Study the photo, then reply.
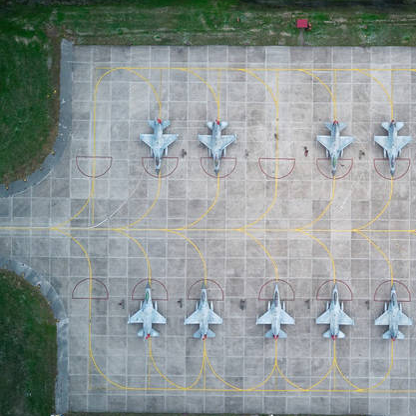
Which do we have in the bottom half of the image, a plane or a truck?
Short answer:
plane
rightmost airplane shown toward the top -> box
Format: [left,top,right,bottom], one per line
[374,119,412,178]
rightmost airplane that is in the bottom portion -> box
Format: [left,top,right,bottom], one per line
[374,285,413,341]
